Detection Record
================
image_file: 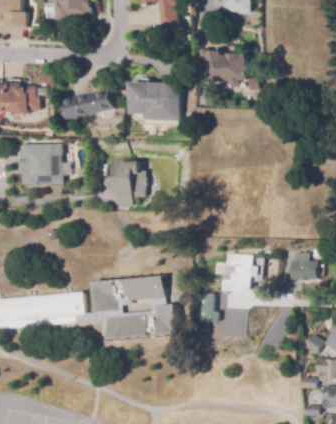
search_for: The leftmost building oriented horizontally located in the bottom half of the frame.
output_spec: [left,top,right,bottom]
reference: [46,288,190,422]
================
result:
[0,292,84,320]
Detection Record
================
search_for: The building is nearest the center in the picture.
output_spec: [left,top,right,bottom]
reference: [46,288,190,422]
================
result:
[107,162,148,210]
